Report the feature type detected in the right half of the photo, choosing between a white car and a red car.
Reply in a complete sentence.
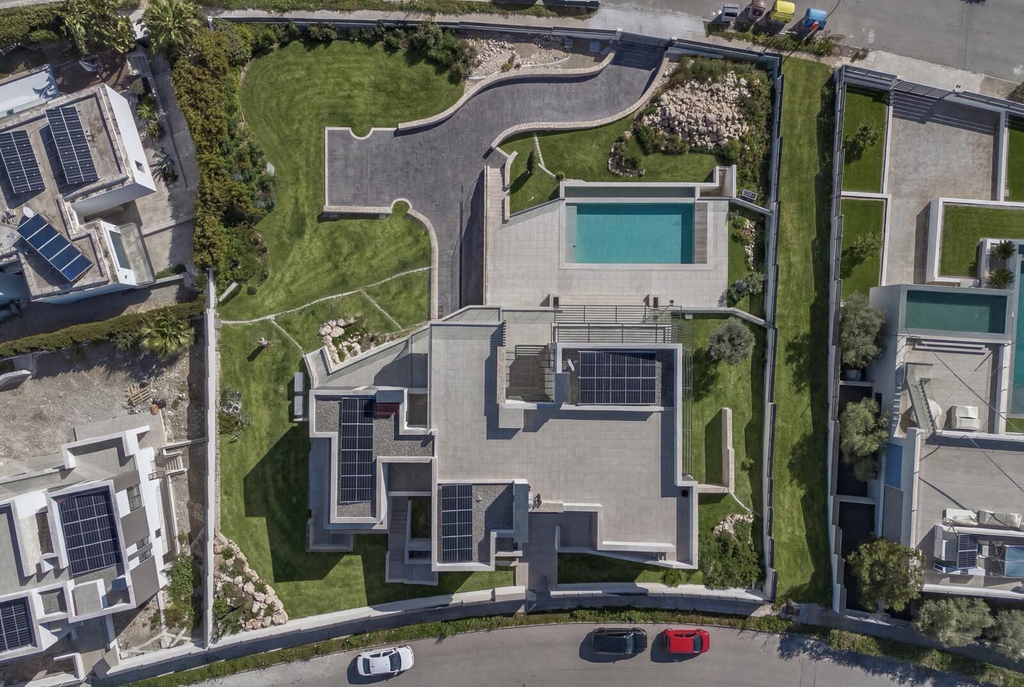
There is a red car in the right half of the photo.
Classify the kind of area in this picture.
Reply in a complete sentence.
The area seen from above is a residential area.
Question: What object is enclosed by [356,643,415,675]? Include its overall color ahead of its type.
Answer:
white car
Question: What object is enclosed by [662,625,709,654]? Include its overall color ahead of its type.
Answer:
red car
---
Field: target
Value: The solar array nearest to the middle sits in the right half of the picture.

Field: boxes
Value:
[577,351,657,405]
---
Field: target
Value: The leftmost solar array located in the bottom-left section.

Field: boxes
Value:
[0,598,35,648]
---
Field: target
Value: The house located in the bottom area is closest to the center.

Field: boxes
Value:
[305,308,698,591]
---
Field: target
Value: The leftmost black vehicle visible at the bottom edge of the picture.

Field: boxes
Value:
[590,624,647,655]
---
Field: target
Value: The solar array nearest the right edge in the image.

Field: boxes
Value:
[999,541,1024,578]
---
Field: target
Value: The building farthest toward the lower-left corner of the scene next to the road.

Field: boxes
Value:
[0,424,178,656]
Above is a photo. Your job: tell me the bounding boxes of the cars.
[590,624,647,655]
[356,643,415,675]
[662,625,709,654]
